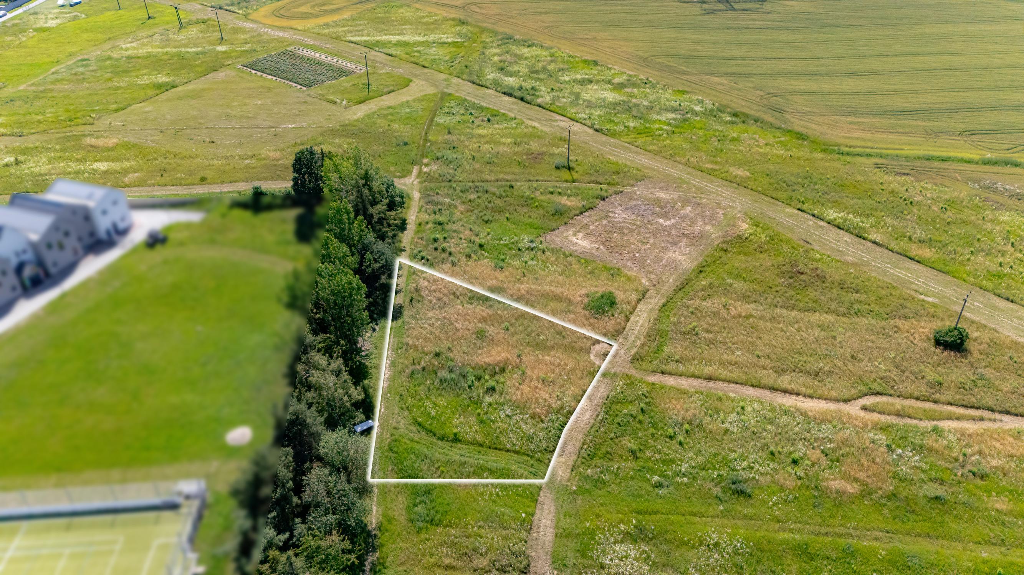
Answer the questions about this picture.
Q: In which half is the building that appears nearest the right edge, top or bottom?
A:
bottom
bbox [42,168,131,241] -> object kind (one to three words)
house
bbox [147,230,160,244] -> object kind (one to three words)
vehicle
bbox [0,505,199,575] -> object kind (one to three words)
sports court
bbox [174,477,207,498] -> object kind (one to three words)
building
